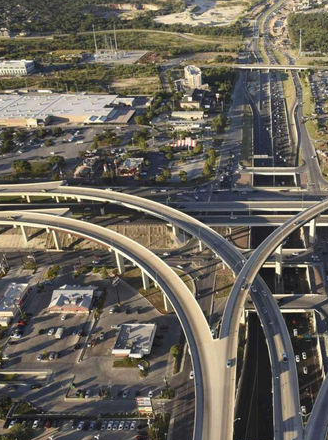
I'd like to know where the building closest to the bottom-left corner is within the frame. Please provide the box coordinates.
[0,284,29,326]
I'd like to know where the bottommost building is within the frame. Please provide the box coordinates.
[111,323,158,364]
